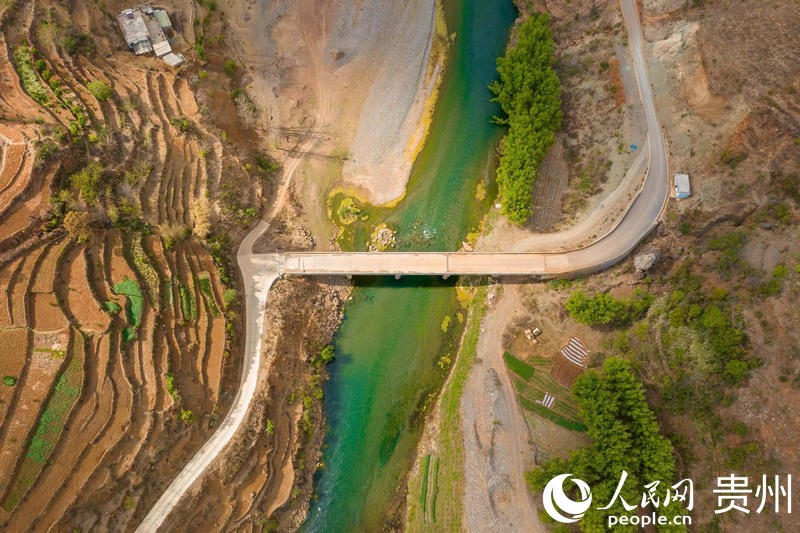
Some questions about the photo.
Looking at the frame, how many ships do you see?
0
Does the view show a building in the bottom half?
No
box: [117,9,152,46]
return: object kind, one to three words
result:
house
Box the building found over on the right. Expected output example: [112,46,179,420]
[672,173,689,199]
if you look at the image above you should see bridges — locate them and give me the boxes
[284,252,546,279]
